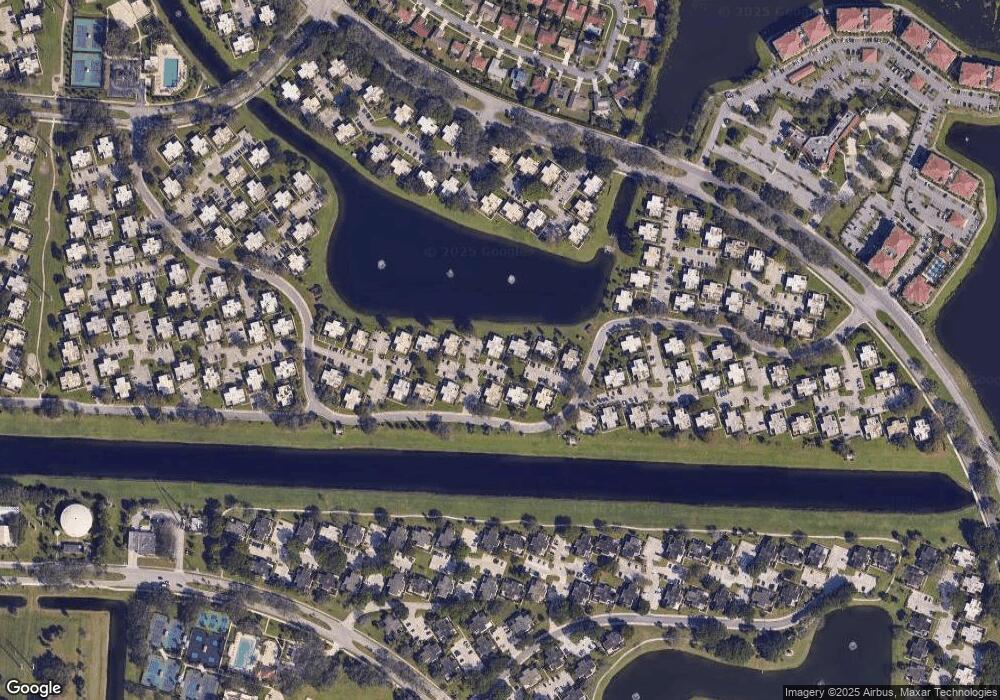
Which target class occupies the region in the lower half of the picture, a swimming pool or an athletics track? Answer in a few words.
swimming pool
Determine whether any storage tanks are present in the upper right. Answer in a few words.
No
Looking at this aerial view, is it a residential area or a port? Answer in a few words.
residential area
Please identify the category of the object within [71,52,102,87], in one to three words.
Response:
tennis court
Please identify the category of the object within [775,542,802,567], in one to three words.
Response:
house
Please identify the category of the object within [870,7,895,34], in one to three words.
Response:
building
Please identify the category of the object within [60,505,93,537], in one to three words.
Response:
storage tank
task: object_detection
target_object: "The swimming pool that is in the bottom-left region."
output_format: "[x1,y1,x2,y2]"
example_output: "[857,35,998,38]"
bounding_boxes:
[229,631,262,672]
